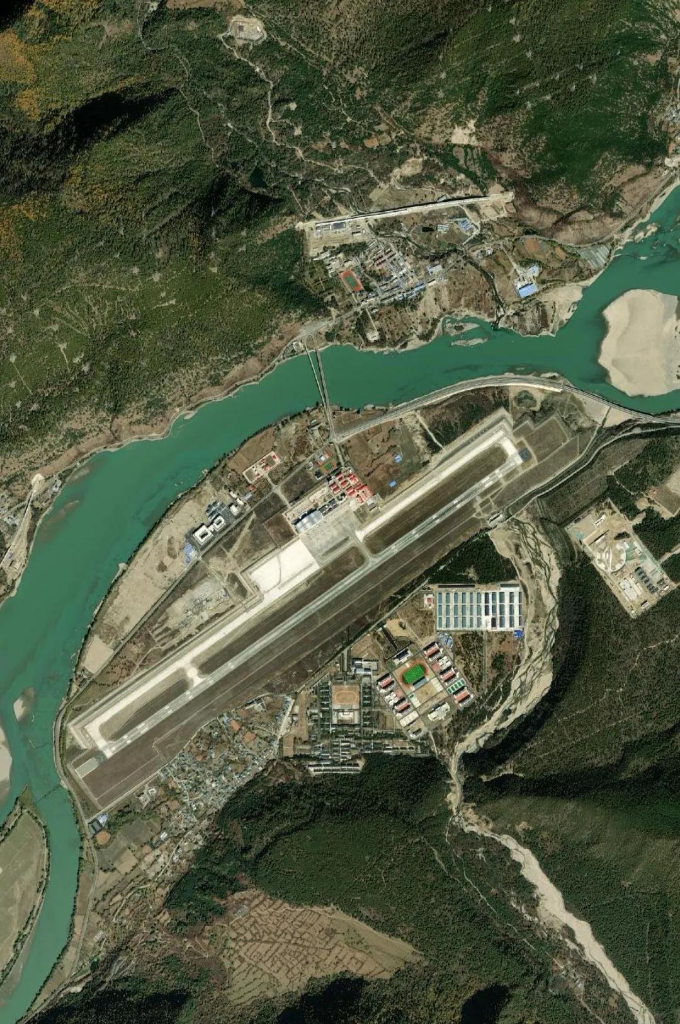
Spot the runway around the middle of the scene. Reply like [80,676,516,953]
[110,460,516,752]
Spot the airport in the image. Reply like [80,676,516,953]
[69,410,598,811]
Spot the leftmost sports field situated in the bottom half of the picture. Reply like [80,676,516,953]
[332,685,360,709]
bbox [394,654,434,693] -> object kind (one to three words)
sports field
